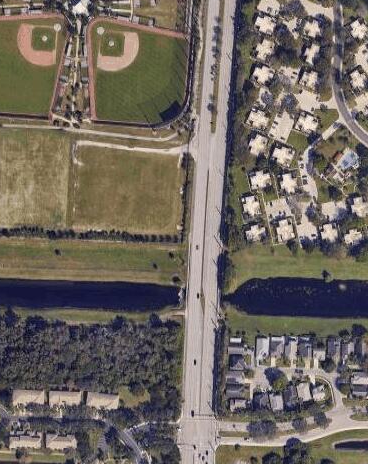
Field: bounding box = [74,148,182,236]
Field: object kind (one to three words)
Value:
sports field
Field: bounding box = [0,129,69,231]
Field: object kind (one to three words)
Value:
sports field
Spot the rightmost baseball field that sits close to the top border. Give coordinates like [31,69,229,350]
[89,19,191,128]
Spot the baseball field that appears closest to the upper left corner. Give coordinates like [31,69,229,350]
[0,15,69,116]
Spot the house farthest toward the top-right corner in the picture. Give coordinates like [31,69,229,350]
[348,17,368,41]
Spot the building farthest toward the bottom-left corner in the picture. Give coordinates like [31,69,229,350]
[10,435,40,449]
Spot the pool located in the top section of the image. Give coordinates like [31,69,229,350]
[338,147,359,171]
